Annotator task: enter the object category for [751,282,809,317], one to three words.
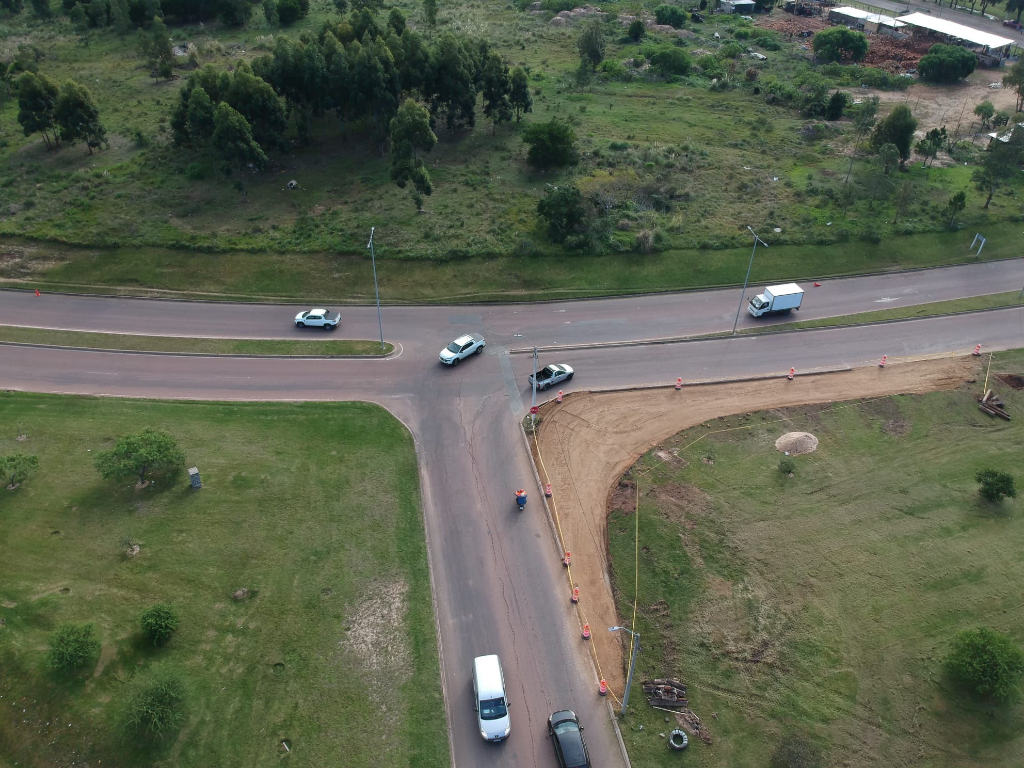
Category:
truck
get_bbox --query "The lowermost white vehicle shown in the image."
[471,655,512,743]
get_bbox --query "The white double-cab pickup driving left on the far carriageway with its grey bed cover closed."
[294,308,340,330]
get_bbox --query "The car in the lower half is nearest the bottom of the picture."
[549,710,592,768]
